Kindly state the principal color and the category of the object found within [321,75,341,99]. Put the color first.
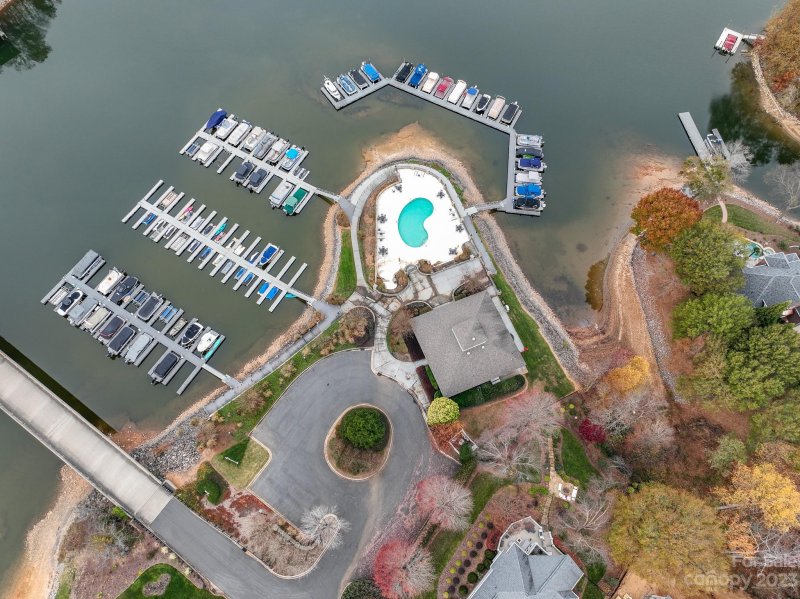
white boat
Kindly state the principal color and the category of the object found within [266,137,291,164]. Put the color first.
white boat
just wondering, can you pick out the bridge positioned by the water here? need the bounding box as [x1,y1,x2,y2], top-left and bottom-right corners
[0,344,174,523]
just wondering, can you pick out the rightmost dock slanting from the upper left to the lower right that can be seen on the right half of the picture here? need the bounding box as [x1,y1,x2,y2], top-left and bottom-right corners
[680,110,739,185]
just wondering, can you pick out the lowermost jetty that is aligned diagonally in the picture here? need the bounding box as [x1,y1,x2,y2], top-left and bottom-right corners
[41,258,238,396]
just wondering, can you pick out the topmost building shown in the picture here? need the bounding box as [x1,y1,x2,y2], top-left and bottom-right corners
[742,251,800,317]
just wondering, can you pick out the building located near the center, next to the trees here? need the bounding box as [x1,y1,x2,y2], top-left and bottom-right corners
[411,291,527,398]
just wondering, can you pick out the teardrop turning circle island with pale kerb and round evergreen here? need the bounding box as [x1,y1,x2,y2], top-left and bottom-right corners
[323,402,393,481]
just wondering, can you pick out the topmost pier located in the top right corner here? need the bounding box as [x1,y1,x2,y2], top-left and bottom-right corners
[702,26,766,70]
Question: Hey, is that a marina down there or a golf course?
marina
